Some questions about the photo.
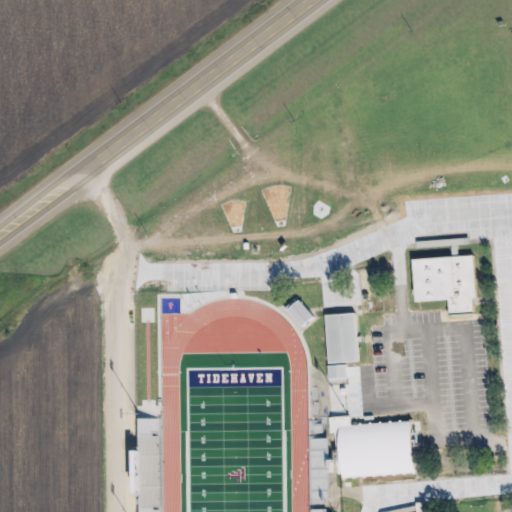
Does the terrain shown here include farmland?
Yes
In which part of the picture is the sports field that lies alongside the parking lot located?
bottom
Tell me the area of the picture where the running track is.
bottom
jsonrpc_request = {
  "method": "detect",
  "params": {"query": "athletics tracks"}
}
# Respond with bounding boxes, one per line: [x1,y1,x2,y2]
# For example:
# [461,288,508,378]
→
[162,298,309,512]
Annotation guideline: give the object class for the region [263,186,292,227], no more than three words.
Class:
sports field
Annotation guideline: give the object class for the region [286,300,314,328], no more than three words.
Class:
building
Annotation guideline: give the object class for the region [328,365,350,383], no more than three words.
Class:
shed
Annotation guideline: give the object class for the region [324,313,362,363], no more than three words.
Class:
barn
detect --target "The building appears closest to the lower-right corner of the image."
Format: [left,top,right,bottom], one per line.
[338,420,420,482]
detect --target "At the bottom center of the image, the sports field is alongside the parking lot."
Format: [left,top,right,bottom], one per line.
[180,354,292,512]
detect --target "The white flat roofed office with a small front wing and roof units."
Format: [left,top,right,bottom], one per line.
[412,255,476,314]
